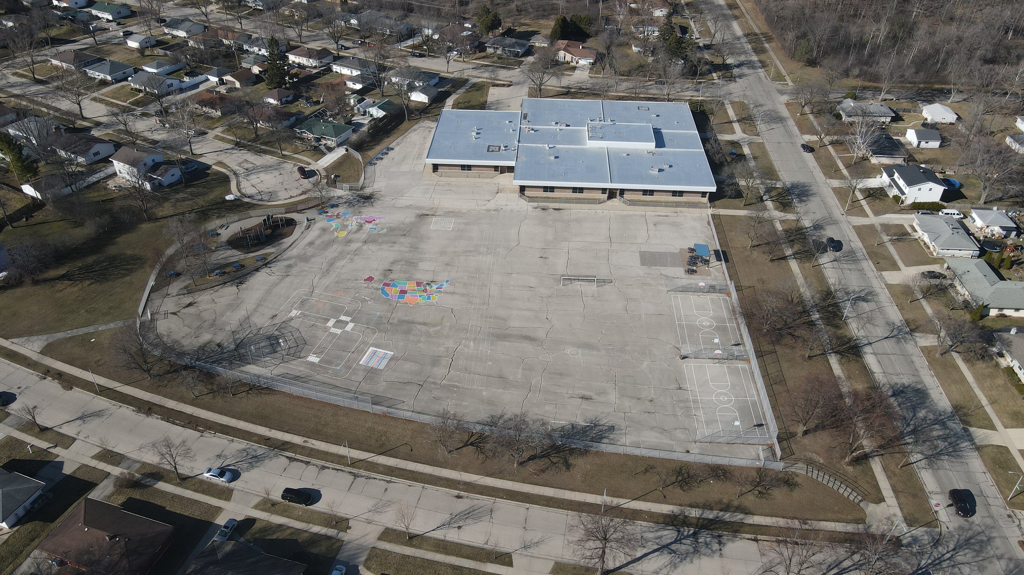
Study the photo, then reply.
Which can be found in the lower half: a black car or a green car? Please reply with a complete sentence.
There is a black car in the lower half.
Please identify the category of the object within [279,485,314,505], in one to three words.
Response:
car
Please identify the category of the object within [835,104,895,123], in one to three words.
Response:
house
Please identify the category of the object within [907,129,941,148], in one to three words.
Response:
building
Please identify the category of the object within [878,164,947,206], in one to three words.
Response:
house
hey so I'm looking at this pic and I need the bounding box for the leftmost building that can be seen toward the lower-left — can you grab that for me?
[0,463,47,530]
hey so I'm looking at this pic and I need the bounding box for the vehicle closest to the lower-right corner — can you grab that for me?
[950,484,978,515]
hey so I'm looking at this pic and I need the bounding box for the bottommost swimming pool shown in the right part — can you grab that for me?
[940,175,966,191]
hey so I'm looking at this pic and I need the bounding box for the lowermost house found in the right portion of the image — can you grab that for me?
[989,331,1024,389]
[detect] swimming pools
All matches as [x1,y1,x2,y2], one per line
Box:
[183,71,201,80]
[940,175,966,191]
